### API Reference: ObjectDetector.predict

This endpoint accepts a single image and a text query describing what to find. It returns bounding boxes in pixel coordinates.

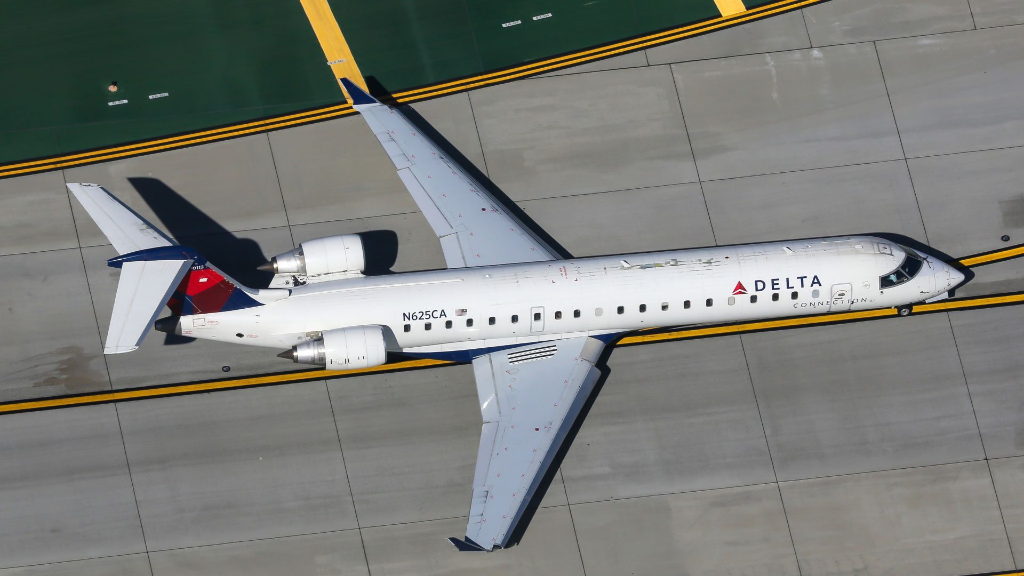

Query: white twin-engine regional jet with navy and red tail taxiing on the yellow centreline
[66,78,964,551]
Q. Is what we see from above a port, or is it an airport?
airport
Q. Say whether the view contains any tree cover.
No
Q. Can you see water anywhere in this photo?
No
